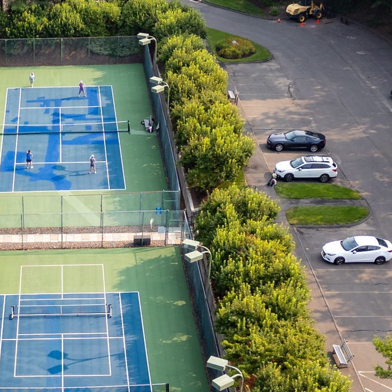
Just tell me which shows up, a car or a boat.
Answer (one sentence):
It is a car that can be seen here.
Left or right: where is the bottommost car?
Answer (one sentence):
The bottommost car sits on the right side.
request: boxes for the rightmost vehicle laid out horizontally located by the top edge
[285,0,338,22]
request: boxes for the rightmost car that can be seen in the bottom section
[321,234,392,262]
